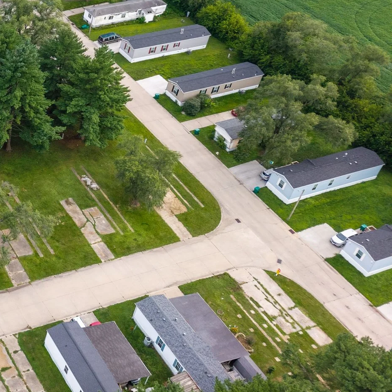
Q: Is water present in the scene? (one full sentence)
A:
No, the picture contains no water.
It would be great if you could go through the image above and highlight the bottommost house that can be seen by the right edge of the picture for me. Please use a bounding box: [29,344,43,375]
[340,223,392,276]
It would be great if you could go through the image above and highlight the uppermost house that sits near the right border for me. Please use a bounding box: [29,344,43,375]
[266,144,388,204]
